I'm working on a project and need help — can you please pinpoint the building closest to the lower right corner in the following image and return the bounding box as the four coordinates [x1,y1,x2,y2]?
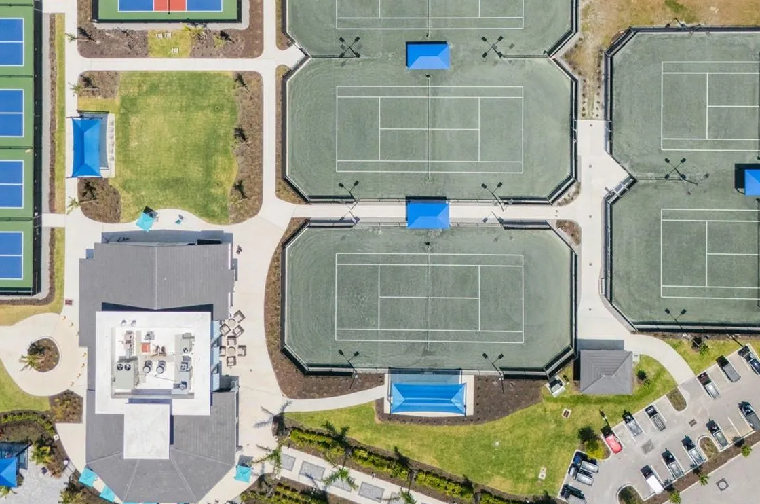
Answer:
[580,346,633,394]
